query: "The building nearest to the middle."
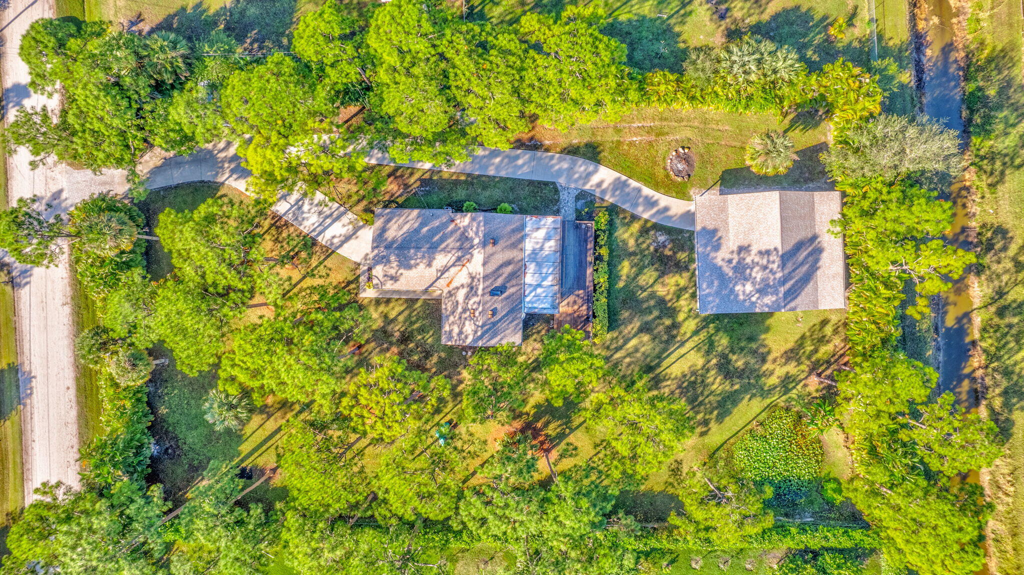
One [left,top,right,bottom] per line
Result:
[362,208,563,346]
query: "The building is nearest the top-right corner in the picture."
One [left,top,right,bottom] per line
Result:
[691,190,847,314]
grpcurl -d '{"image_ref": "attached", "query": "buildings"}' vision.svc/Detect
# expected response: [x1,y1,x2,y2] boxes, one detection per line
[362,208,563,346]
[691,190,847,314]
